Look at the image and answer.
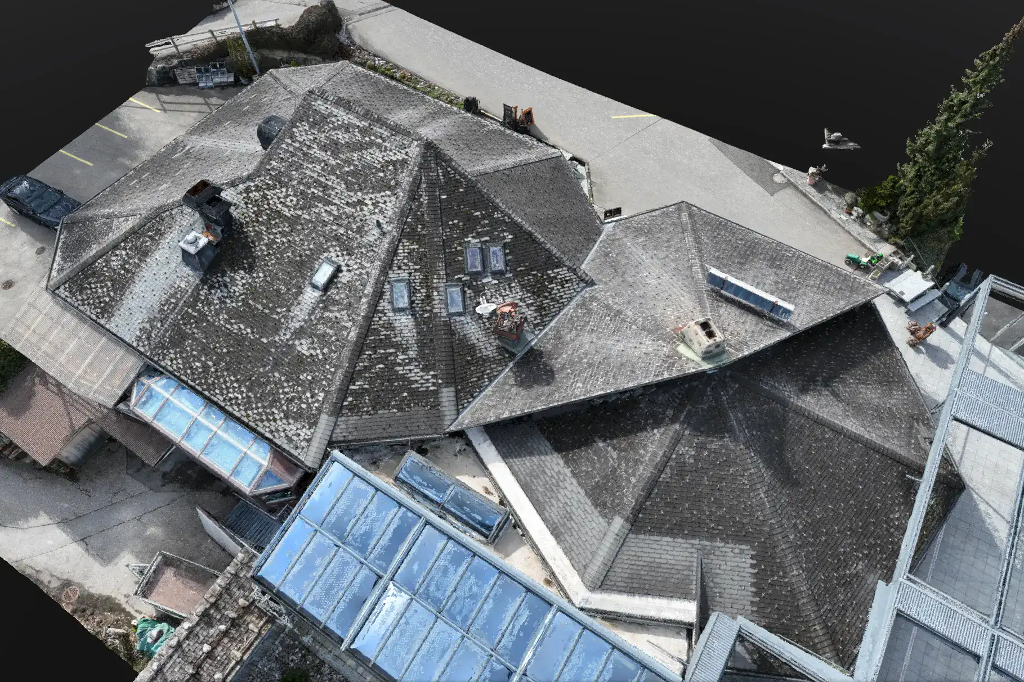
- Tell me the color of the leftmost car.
black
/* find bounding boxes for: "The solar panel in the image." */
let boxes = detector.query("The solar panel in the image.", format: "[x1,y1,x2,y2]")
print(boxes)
[706,269,795,323]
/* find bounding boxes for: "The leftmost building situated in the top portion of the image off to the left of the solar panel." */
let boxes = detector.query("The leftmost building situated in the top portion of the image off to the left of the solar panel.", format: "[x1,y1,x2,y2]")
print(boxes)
[45,58,604,473]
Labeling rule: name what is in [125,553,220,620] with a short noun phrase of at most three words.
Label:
trailer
